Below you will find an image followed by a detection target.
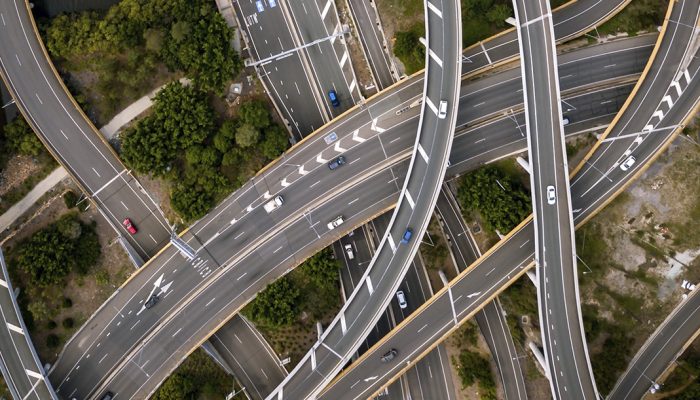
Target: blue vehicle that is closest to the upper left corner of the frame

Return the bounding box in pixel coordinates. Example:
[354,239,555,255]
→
[327,88,340,109]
